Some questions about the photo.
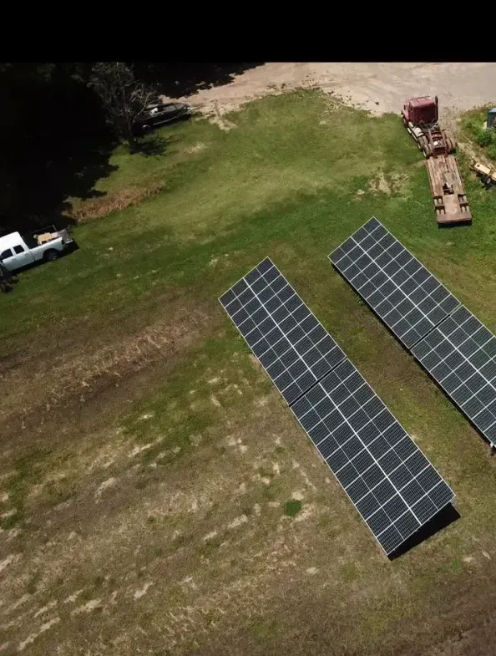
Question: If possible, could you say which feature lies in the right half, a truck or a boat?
truck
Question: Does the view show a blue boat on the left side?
No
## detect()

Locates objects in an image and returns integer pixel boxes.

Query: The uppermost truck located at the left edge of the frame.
[0,221,77,272]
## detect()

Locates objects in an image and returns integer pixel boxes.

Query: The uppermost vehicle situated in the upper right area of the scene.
[407,98,452,159]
